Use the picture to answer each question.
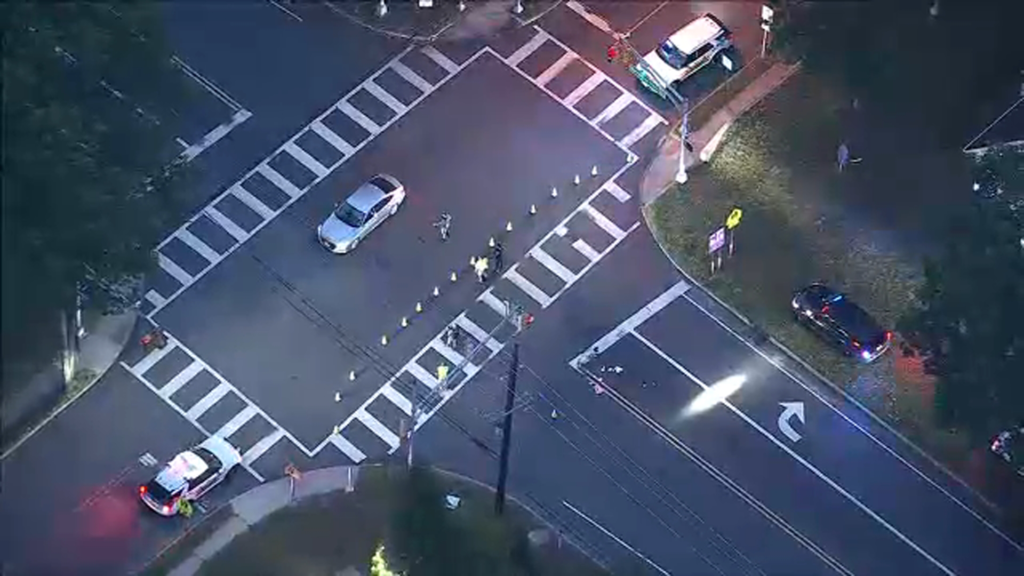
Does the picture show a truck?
No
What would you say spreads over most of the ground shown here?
paved ground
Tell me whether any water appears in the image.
No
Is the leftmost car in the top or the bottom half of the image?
bottom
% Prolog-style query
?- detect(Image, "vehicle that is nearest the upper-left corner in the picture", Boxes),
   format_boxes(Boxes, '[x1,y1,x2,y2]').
[318,172,404,253]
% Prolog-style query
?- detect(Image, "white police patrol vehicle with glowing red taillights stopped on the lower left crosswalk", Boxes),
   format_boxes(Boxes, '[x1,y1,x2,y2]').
[141,437,247,519]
